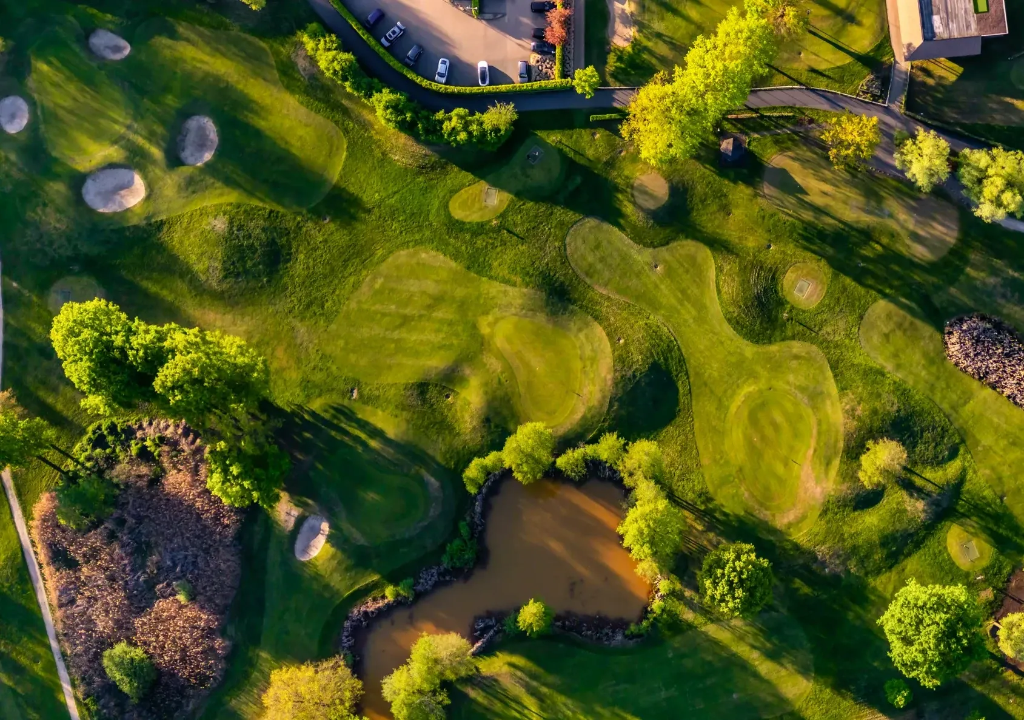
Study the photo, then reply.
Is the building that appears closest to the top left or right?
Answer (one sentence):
The building that appears closest to the top appears in the right half of the scene.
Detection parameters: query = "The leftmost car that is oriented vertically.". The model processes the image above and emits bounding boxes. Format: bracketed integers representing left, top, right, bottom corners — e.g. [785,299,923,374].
[435,58,449,84]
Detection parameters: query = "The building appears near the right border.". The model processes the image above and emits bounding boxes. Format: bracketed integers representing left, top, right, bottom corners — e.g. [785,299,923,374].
[897,0,1010,60]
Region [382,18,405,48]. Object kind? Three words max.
car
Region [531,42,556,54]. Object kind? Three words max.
vehicle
